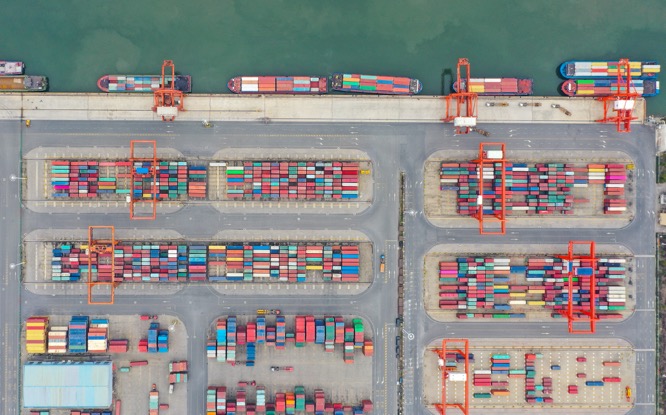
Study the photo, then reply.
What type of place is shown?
port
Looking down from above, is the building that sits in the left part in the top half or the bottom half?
bottom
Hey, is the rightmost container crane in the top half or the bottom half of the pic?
top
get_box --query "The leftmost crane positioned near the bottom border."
[433,339,469,415]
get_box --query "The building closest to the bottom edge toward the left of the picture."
[23,363,113,408]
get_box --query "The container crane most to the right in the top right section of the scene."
[589,59,641,133]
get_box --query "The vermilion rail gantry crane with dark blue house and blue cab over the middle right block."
[554,241,595,333]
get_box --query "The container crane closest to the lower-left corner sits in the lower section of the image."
[85,226,124,304]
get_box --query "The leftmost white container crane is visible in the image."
[151,60,189,121]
